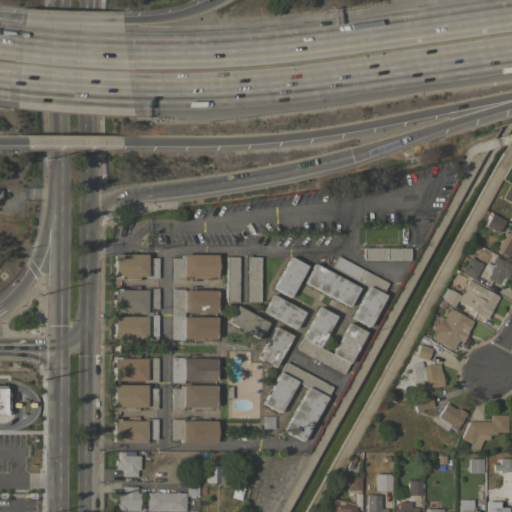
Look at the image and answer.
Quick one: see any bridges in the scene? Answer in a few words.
Yes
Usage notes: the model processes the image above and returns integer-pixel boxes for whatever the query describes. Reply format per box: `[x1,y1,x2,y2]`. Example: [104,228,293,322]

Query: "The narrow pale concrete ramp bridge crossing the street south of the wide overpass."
[28,135,124,152]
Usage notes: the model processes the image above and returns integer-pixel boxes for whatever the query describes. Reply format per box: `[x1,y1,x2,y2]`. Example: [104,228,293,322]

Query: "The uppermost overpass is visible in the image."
[17,6,131,118]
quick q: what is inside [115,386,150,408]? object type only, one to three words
building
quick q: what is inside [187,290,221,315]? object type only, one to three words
building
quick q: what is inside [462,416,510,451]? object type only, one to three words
house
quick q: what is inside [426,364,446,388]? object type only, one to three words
house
